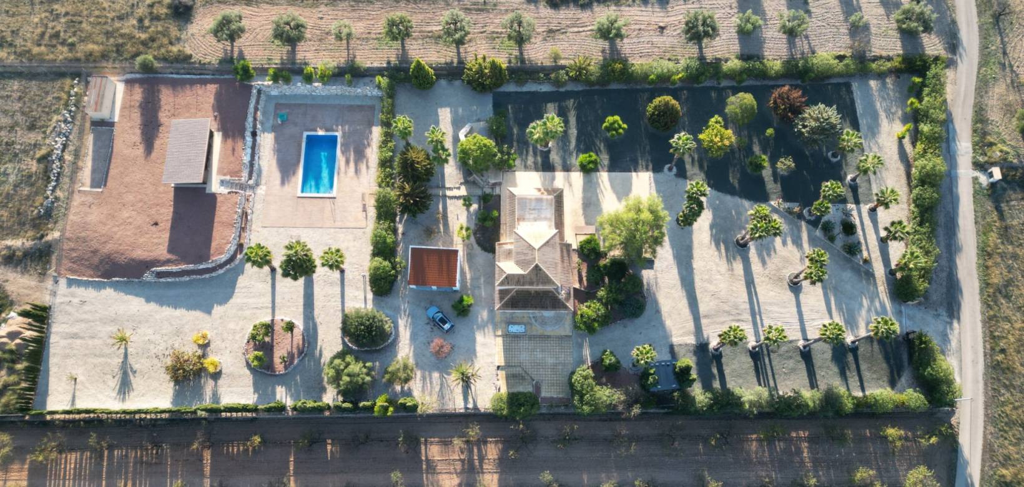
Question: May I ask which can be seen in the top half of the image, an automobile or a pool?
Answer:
pool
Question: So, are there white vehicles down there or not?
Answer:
No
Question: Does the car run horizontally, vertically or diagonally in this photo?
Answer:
diagonally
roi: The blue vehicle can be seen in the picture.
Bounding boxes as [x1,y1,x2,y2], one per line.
[425,303,456,334]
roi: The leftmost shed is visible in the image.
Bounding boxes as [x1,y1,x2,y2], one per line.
[86,75,119,124]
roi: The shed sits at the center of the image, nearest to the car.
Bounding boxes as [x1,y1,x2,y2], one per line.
[407,245,462,293]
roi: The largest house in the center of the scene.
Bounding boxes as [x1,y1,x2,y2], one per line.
[495,186,573,315]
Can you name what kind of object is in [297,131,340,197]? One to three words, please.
swimming pool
